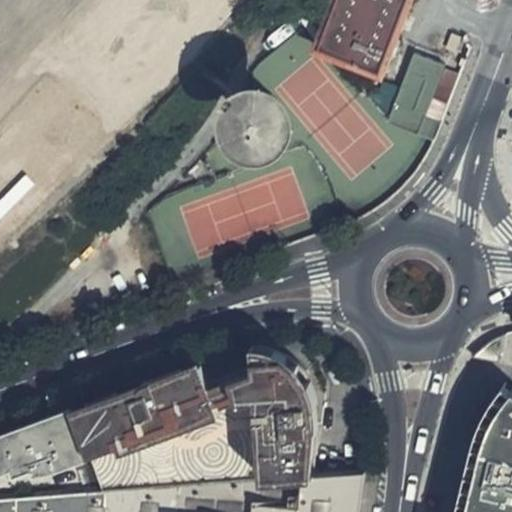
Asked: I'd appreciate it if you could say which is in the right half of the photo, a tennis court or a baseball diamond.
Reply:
tennis court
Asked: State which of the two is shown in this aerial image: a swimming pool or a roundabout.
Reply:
roundabout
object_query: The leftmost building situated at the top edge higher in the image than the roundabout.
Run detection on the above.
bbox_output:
[312,0,412,86]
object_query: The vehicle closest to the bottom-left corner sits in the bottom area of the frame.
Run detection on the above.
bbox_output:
[68,347,92,362]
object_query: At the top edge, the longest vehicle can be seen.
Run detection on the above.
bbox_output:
[264,24,296,51]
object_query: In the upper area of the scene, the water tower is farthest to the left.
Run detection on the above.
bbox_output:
[214,90,293,168]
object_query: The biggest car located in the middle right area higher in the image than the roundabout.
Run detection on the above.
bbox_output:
[398,201,420,220]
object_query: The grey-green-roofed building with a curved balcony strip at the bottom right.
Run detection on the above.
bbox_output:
[450,384,512,512]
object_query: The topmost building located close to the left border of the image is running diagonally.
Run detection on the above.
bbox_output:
[0,175,37,222]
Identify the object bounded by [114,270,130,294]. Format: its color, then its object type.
white vehicle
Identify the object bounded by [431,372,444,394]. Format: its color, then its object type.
white vehicle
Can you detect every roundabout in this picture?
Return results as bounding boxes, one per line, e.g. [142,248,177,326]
[373,246,455,328]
